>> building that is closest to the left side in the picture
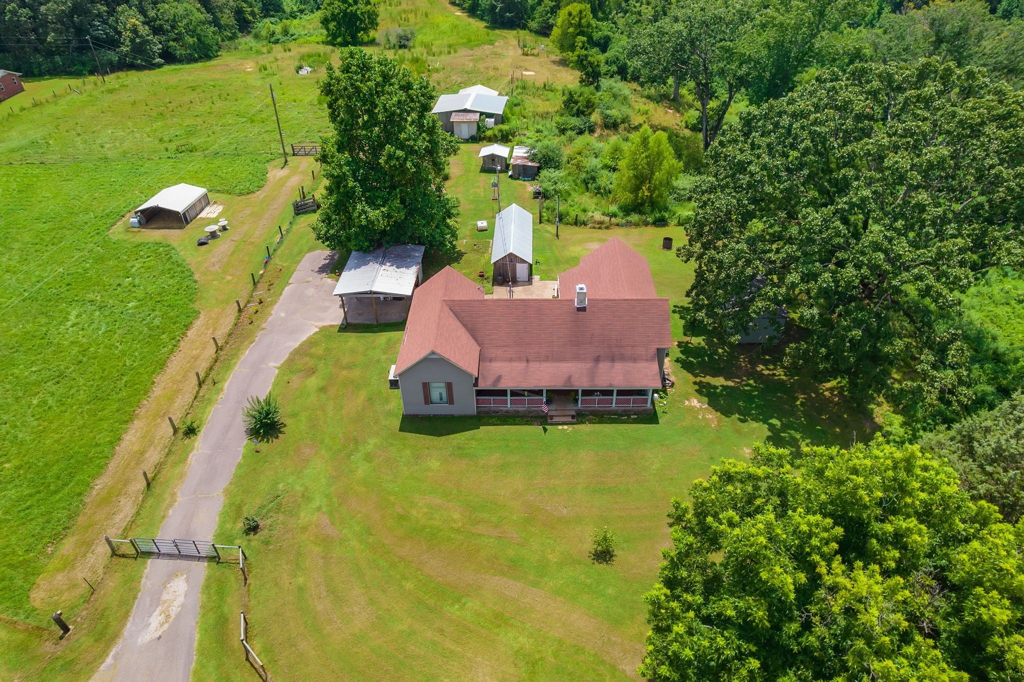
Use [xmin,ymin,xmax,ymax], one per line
[0,64,32,99]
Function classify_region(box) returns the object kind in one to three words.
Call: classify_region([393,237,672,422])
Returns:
house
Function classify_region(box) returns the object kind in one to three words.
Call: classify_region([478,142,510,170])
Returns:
shed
